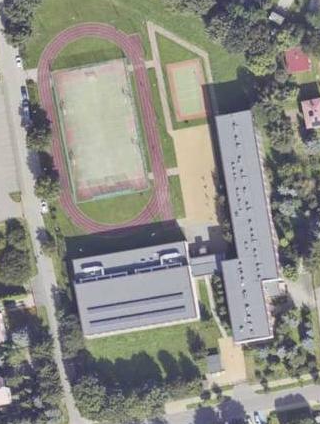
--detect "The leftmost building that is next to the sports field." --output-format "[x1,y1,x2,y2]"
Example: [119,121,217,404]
[73,241,202,341]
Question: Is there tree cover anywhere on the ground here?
Yes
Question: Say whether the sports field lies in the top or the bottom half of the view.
top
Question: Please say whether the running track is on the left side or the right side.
left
